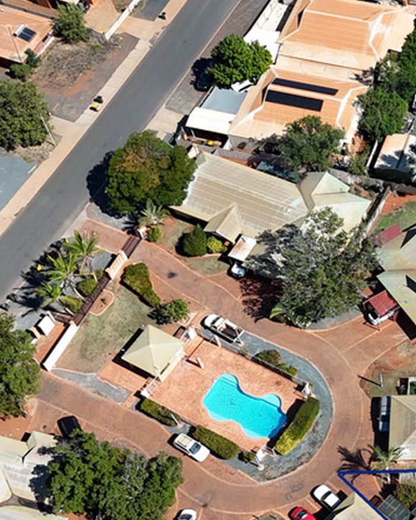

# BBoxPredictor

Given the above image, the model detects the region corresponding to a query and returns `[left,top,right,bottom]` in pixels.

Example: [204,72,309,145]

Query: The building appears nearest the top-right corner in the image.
[277,0,416,79]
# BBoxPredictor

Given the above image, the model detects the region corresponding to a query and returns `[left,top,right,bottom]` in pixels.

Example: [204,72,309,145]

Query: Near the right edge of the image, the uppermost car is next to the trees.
[359,305,397,327]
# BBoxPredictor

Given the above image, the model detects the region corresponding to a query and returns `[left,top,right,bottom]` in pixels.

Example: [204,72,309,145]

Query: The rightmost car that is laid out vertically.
[374,394,391,436]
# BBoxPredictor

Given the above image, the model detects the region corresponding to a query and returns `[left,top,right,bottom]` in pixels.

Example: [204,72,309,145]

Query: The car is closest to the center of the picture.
[226,256,249,284]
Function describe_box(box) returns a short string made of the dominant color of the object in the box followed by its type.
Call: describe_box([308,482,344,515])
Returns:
white car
